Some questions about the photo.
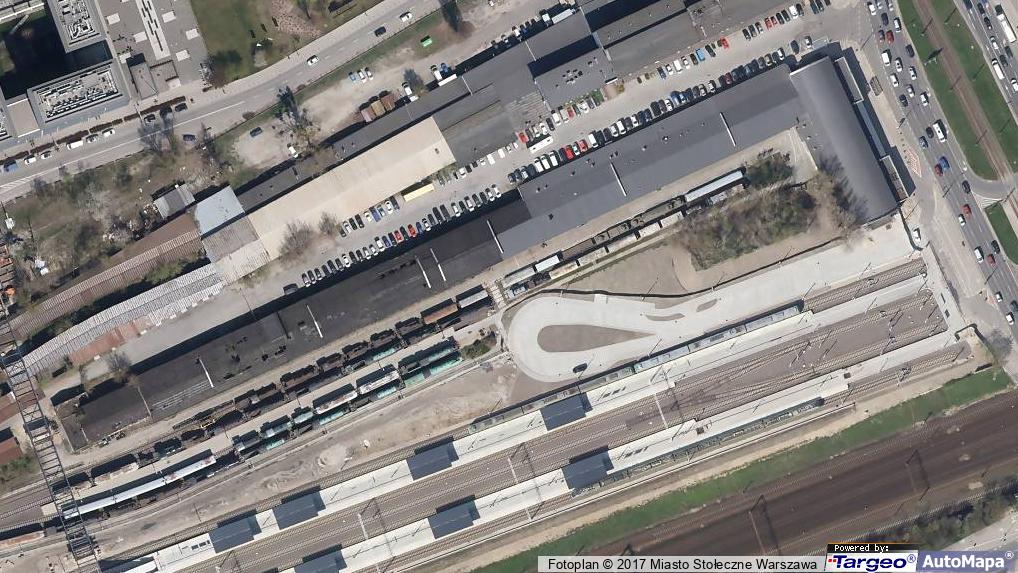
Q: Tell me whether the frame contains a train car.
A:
Yes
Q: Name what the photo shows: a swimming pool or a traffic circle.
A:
traffic circle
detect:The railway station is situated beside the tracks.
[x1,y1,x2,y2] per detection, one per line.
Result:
[96,246,966,573]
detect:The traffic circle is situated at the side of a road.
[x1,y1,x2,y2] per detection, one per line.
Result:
[509,210,921,383]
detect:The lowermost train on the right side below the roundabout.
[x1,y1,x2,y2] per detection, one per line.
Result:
[574,402,823,497]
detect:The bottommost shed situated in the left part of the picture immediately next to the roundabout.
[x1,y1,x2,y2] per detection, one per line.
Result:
[76,193,531,452]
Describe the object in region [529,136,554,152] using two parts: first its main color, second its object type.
white vehicle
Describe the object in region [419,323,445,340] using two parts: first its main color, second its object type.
gray rail car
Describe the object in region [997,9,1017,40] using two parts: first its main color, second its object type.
white vehicle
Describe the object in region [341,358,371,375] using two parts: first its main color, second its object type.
gray rail car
